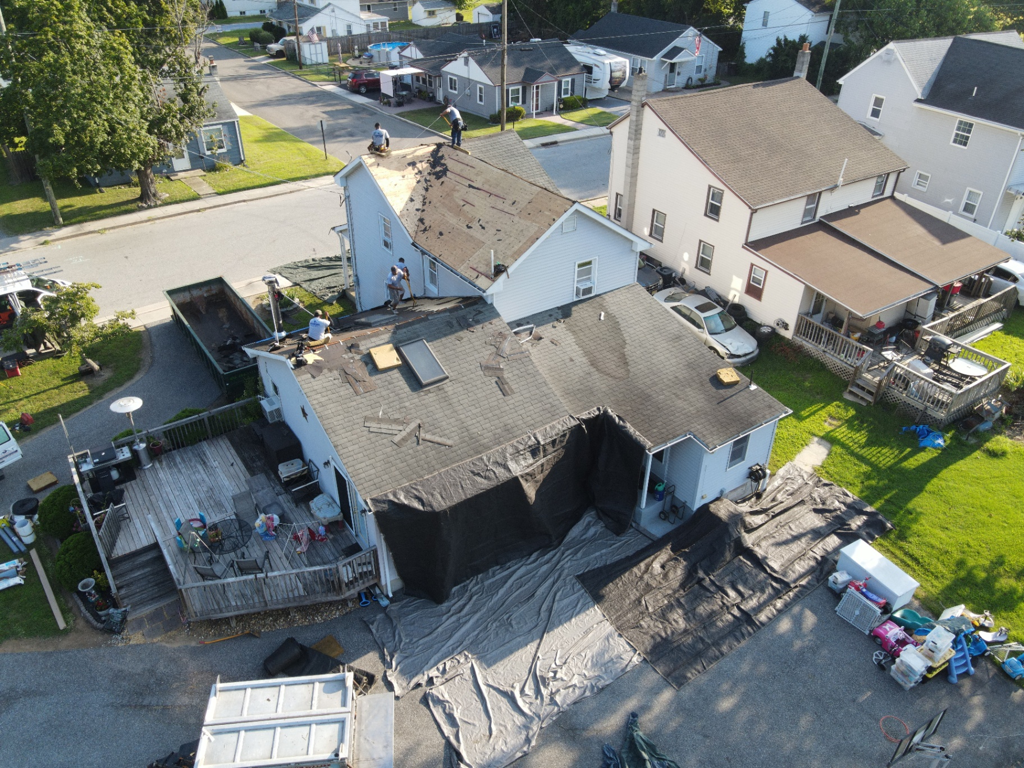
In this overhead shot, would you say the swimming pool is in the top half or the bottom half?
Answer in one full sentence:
Seen from above, the swimming pool lies in the top half of the view.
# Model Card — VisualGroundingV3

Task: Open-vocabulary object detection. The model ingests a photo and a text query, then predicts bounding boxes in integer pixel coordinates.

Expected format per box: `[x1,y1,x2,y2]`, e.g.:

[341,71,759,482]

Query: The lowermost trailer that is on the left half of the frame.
[197,666,408,768]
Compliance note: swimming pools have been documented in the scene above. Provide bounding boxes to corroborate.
[368,43,413,64]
